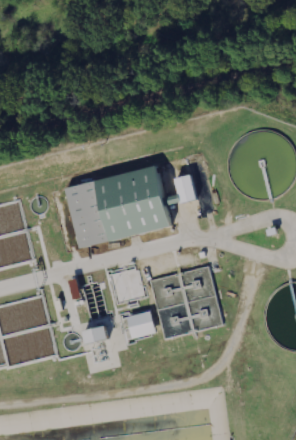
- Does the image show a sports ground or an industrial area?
industrial area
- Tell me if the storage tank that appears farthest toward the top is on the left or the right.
right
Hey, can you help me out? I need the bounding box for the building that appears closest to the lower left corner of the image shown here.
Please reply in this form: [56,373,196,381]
[81,325,108,346]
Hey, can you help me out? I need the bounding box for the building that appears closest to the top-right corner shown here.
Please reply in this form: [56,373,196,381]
[174,174,198,204]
